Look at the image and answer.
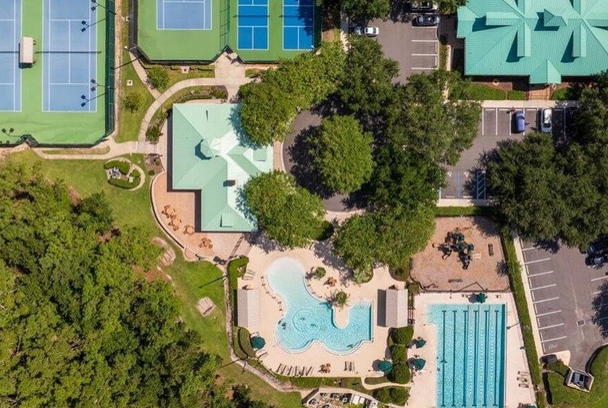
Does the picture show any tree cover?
Yes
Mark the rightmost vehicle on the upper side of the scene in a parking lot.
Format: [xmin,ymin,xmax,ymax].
[541,108,554,133]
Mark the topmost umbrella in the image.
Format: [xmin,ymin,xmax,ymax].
[473,290,487,304]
